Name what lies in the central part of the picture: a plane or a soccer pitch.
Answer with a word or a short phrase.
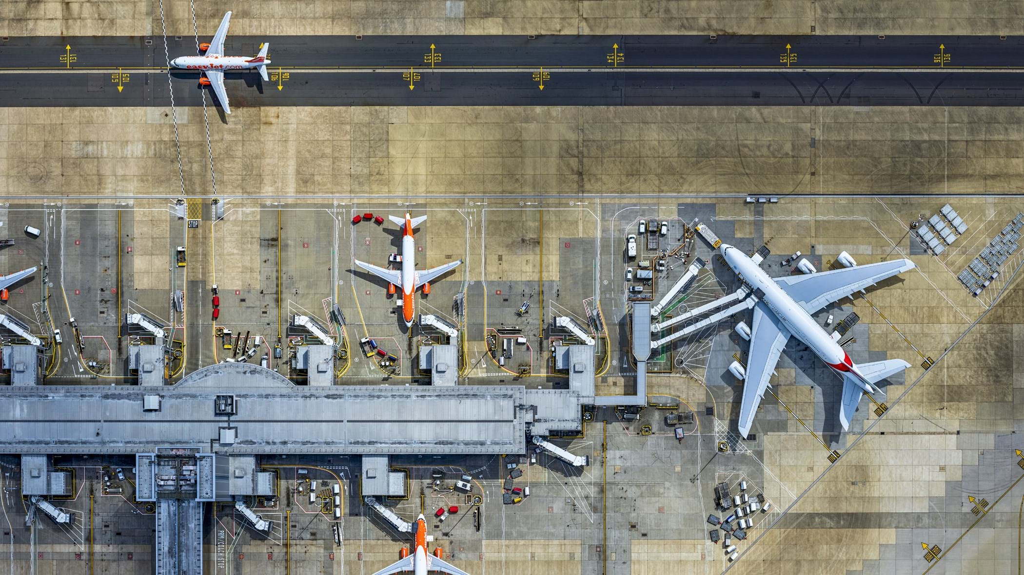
plane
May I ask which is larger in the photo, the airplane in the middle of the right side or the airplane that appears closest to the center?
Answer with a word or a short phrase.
the airplane in the middle of the right side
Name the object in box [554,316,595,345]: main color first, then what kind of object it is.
white jet bridge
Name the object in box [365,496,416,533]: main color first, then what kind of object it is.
white jet bridge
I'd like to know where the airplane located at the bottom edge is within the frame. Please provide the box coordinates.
[375,513,469,575]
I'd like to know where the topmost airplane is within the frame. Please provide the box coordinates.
[171,9,272,113]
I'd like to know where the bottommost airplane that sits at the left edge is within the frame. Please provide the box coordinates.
[0,267,37,301]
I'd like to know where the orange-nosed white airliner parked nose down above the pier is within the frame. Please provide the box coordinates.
[354,213,461,327]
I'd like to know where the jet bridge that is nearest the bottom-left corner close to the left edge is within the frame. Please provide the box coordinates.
[31,495,78,523]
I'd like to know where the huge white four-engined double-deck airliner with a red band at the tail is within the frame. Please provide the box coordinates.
[719,244,921,441]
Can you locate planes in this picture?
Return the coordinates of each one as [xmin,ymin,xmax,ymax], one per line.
[354,213,461,327]
[0,267,37,301]
[171,9,272,113]
[375,513,469,575]
[719,244,921,441]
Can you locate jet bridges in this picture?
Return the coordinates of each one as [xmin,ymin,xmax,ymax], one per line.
[532,436,588,466]
[651,290,765,349]
[554,316,595,345]
[651,258,705,316]
[0,311,48,346]
[126,313,169,337]
[31,495,78,523]
[235,499,274,532]
[293,315,335,345]
[365,496,416,533]
[651,282,752,333]
[420,314,458,337]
